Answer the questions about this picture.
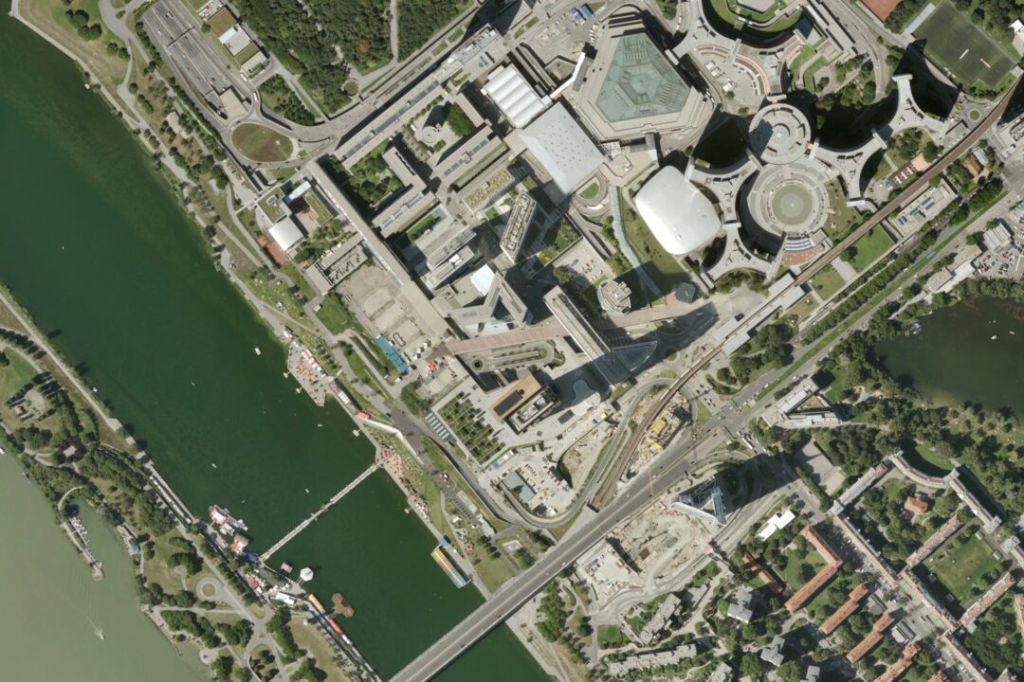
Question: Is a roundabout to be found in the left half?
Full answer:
Yes, there is a roundabout in the left half.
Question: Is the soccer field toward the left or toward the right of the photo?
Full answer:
You can find the soccer field on the right side of the picture.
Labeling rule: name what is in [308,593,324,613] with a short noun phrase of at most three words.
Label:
ship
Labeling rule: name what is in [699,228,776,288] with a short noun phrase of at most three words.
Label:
building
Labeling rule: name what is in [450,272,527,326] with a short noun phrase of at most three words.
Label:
building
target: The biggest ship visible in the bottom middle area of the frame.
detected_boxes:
[430,546,465,587]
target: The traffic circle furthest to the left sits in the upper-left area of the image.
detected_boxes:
[222,113,302,170]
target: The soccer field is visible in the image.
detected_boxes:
[915,0,1016,87]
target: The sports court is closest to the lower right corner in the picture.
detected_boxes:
[793,440,847,496]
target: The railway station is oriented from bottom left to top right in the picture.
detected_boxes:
[712,272,816,354]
